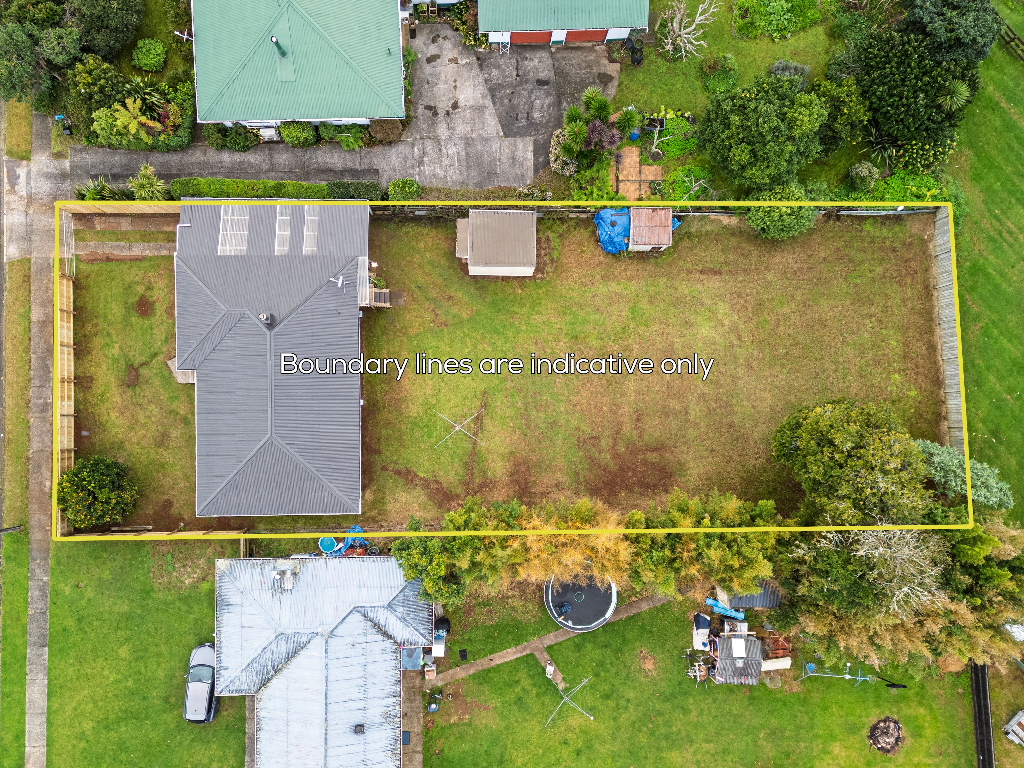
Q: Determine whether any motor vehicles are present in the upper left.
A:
No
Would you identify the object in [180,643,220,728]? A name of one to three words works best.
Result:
car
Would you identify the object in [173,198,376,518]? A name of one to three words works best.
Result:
house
